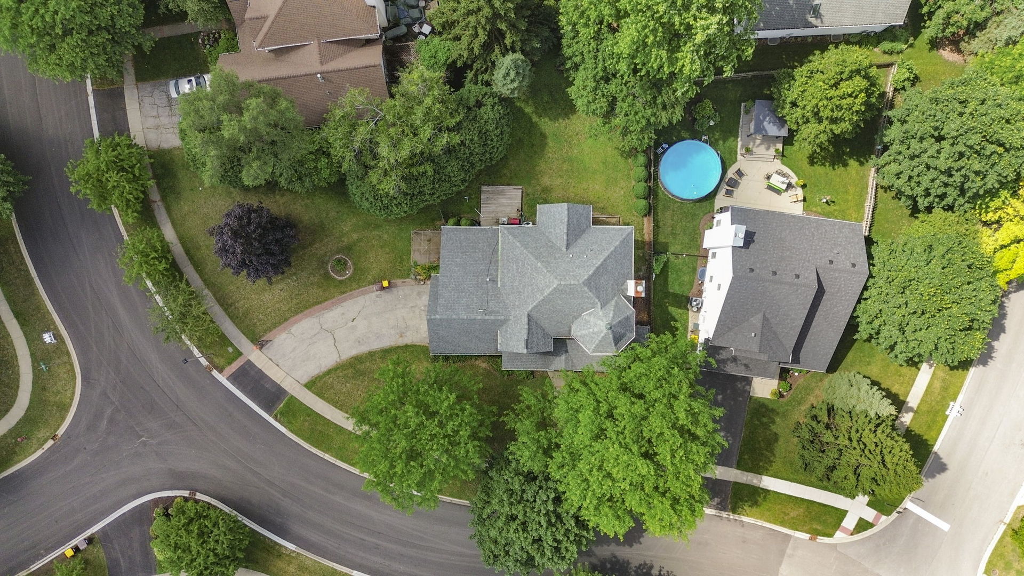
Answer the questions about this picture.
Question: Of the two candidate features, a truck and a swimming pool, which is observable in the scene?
swimming pool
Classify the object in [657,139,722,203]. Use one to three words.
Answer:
swimming pool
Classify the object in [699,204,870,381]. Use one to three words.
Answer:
house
